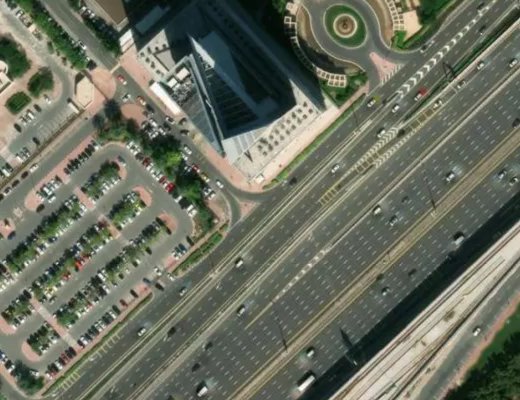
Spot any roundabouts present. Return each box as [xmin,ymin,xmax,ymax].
[301,0,414,110]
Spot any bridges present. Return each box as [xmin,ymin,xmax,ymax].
[328,222,520,400]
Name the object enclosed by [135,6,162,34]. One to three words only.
building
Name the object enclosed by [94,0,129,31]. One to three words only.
building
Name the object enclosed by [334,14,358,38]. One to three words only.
fountain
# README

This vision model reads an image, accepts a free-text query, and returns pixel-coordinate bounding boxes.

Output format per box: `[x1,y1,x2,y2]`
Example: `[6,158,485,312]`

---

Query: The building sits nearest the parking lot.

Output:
[76,77,93,108]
